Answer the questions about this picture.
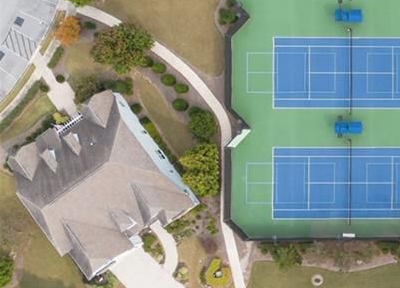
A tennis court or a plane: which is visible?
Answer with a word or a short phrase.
tennis court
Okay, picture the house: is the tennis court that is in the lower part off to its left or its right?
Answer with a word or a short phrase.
right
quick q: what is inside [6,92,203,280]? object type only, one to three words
house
